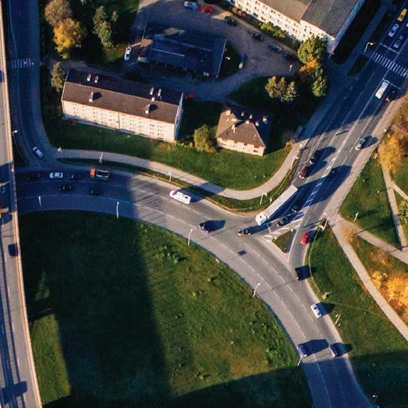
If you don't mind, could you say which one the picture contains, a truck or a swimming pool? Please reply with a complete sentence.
I can see a truck in this picture.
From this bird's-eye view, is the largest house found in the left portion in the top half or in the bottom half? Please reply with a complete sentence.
It is in the top half that the largest house found in the left portion appears.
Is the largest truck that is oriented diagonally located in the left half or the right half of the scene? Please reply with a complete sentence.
The largest truck that is oriented diagonally appears in the right half of the scene.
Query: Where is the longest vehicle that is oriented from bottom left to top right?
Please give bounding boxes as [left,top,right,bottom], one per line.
[258,178,300,224]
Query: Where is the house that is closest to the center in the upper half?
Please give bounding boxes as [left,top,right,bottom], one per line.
[214,107,276,156]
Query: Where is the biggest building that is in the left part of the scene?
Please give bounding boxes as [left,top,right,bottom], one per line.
[59,67,183,141]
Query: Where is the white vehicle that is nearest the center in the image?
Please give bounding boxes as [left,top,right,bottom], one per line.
[170,188,194,202]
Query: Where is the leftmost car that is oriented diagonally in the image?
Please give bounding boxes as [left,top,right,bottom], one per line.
[31,144,44,160]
